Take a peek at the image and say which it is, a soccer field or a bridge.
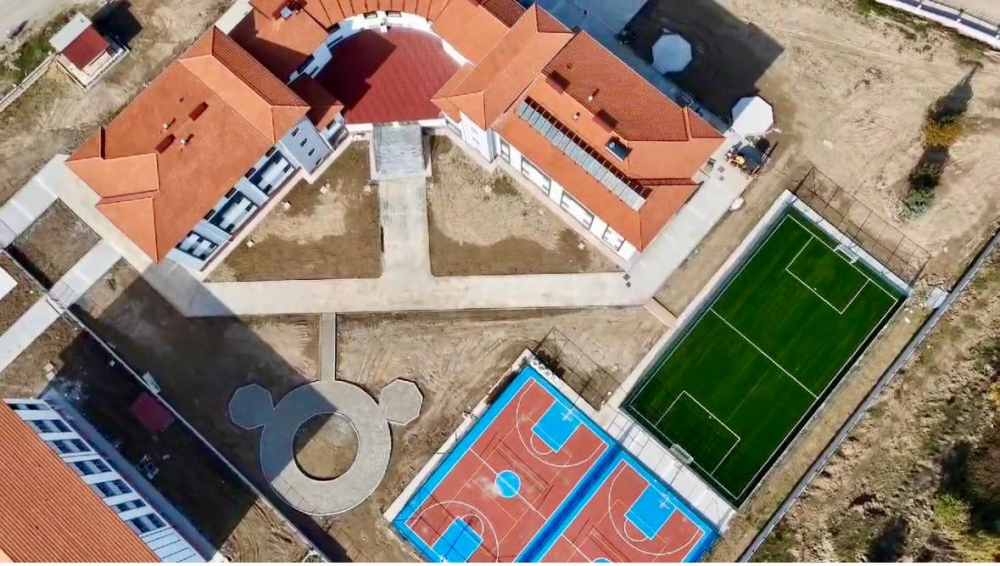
soccer field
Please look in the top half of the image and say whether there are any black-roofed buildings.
No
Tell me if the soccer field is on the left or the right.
right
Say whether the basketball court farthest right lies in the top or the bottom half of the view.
bottom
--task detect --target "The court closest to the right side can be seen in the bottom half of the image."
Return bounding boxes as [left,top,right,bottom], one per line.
[520,446,719,566]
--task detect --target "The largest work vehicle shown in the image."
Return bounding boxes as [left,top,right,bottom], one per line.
[722,139,758,182]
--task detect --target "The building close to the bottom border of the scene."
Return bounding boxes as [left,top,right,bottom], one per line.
[0,391,211,566]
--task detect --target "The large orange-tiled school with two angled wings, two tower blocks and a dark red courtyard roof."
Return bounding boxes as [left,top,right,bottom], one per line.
[66,0,724,274]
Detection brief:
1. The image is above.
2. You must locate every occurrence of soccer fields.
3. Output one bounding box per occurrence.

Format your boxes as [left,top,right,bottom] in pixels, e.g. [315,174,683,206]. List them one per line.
[617,204,907,509]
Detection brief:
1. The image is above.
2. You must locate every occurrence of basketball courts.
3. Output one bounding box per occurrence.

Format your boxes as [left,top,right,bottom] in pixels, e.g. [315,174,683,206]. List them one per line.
[520,446,719,566]
[393,365,621,566]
